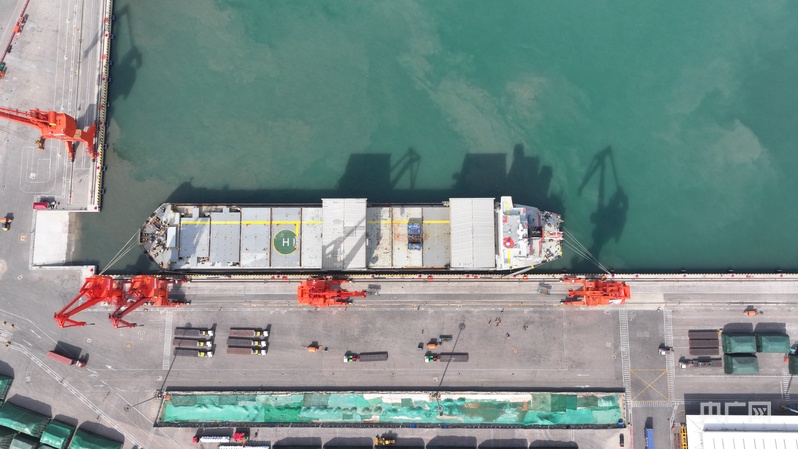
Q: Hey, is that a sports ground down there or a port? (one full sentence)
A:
This looks like a port.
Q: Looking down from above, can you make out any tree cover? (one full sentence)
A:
No, there is no tree cover in the image.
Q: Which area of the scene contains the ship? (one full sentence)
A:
You can find the ship in the center area of the picture.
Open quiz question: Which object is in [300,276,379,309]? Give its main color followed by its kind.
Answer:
red crane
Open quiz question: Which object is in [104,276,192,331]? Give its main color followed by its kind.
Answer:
red crane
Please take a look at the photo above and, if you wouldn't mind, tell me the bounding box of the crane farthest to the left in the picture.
[0,97,97,161]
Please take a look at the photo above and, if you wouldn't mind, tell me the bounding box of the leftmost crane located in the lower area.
[55,276,141,331]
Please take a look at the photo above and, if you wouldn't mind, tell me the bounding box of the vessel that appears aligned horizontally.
[136,195,564,272]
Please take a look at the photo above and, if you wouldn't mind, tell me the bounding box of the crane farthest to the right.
[542,276,628,309]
